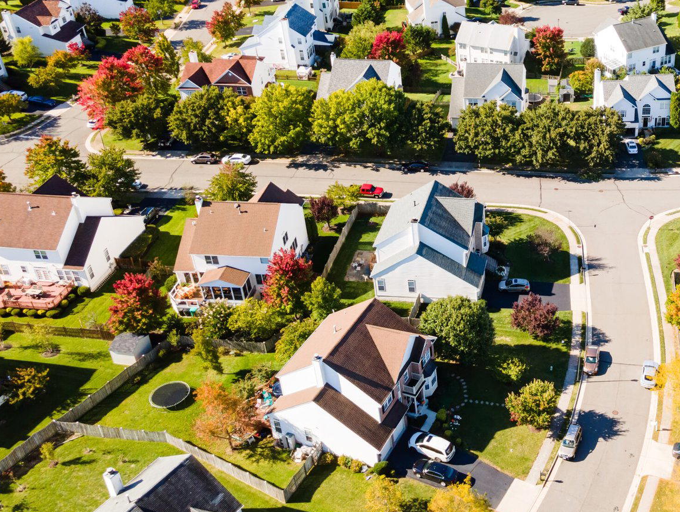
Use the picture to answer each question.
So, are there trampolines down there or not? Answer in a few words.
Yes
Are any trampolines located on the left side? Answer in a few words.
Yes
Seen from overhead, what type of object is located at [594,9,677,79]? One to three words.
house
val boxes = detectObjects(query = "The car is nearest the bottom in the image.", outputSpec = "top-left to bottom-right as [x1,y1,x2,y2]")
[414,464,460,489]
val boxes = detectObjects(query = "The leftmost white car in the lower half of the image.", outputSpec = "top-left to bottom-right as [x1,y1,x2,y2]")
[409,434,453,461]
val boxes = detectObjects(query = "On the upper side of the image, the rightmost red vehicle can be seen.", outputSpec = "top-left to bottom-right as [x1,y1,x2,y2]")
[352,183,385,199]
